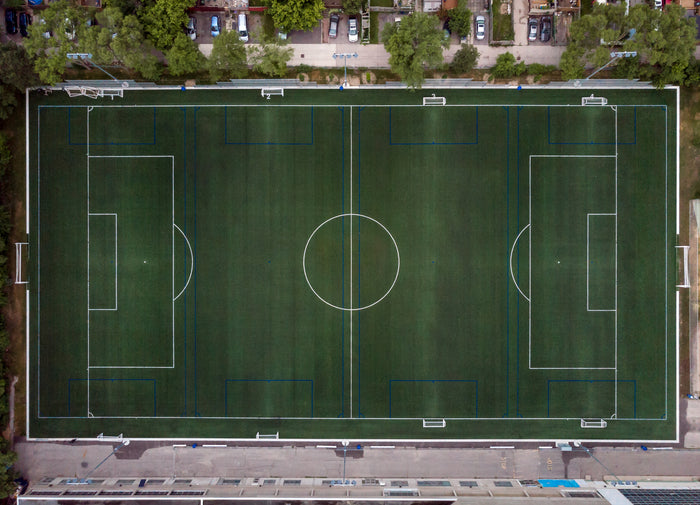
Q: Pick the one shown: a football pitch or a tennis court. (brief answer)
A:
football pitch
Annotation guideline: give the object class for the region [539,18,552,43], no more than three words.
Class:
vehicle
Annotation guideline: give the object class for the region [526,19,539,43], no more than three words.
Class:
vehicle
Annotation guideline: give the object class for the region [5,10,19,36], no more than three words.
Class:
car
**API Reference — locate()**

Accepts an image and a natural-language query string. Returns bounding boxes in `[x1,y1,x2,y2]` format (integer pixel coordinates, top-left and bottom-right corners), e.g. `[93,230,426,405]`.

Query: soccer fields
[28,90,678,439]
